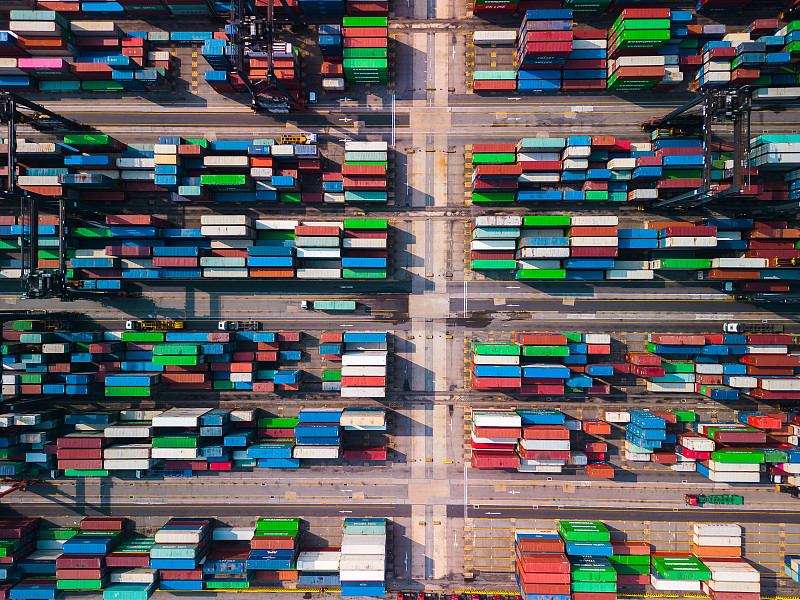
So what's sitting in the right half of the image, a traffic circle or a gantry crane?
gantry crane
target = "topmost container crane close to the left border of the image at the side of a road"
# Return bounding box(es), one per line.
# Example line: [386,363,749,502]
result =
[0,88,75,209]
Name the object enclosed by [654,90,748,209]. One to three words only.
container crane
